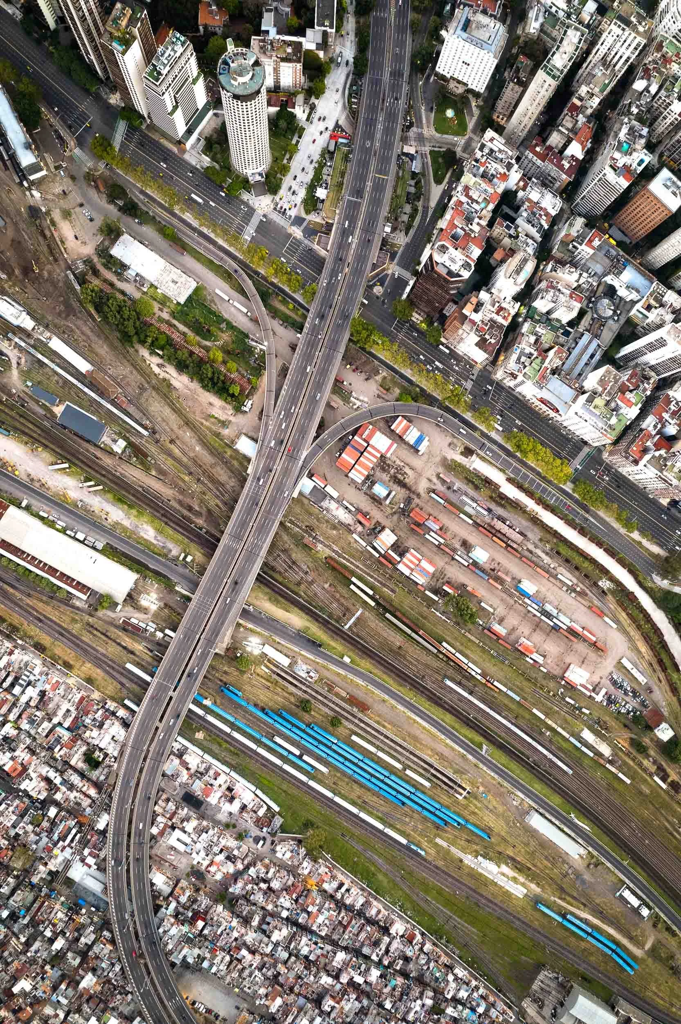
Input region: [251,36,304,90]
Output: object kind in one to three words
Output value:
building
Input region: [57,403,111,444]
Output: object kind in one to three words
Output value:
shed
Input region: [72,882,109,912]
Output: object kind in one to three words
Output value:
building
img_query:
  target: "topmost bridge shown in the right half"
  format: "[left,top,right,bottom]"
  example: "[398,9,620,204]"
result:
[298,402,586,524]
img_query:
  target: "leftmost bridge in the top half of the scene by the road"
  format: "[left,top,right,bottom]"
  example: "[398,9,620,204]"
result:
[136,194,276,453]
